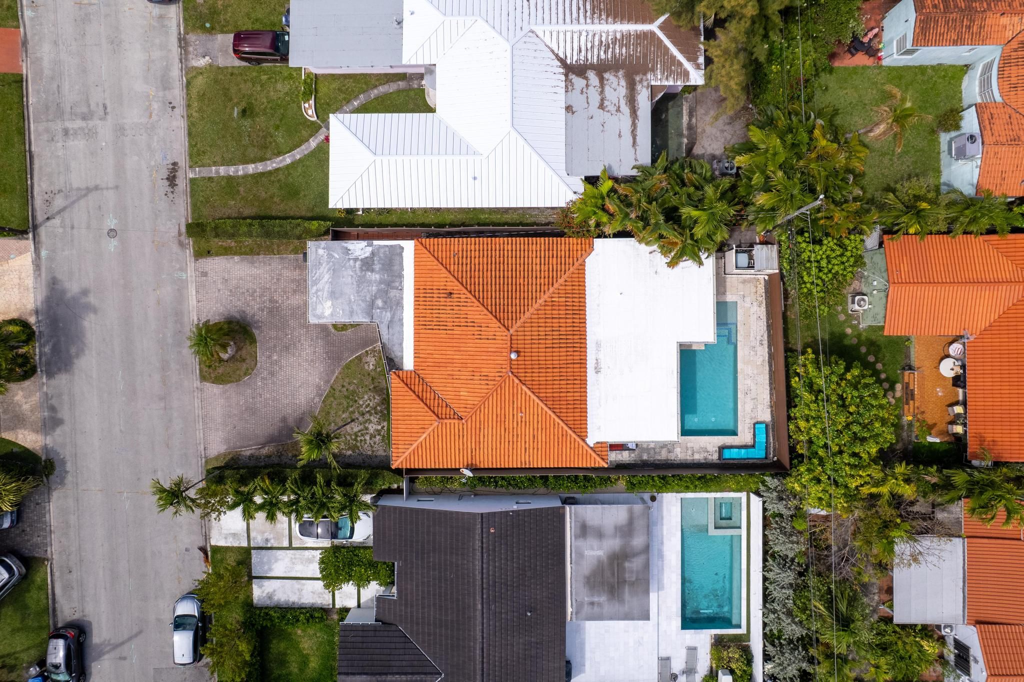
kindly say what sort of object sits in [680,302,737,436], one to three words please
swimming pool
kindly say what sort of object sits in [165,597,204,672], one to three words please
car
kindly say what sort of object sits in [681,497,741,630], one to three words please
swimming pool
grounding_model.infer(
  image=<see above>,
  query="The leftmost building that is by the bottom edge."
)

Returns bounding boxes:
[335,494,650,682]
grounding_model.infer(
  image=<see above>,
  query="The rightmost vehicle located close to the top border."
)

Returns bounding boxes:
[230,24,289,64]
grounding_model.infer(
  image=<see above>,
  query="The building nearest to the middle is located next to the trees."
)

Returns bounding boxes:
[307,236,715,470]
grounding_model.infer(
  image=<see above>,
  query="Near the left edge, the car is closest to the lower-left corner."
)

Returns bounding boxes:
[46,626,86,682]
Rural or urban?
urban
